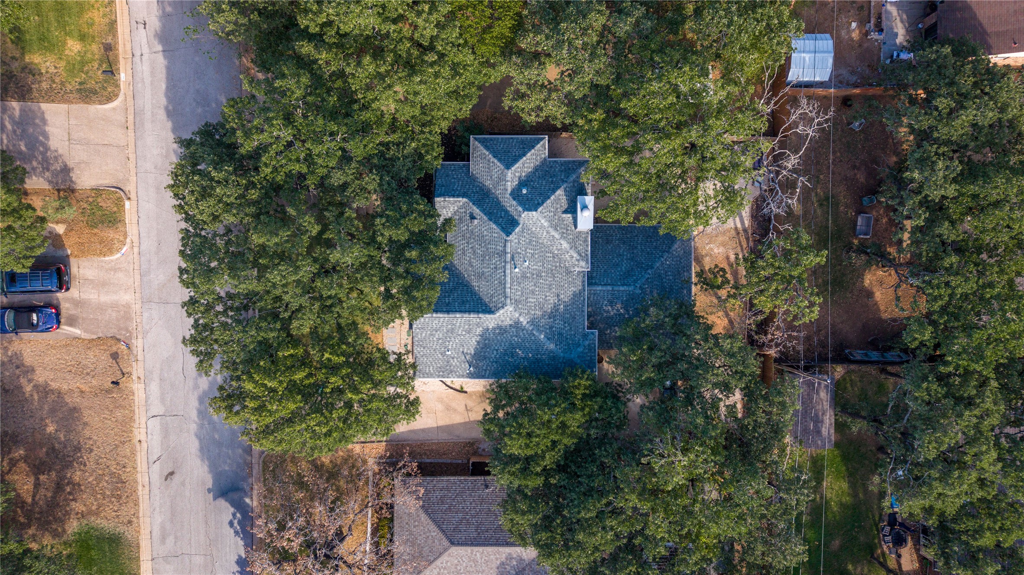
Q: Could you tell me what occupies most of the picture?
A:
trees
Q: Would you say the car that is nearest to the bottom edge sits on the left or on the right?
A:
left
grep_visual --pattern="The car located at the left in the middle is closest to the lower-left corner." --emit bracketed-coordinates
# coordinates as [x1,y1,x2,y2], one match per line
[0,303,63,336]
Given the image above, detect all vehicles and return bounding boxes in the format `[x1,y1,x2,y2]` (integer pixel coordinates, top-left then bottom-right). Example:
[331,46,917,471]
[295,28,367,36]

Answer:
[0,303,63,336]
[0,264,75,299]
